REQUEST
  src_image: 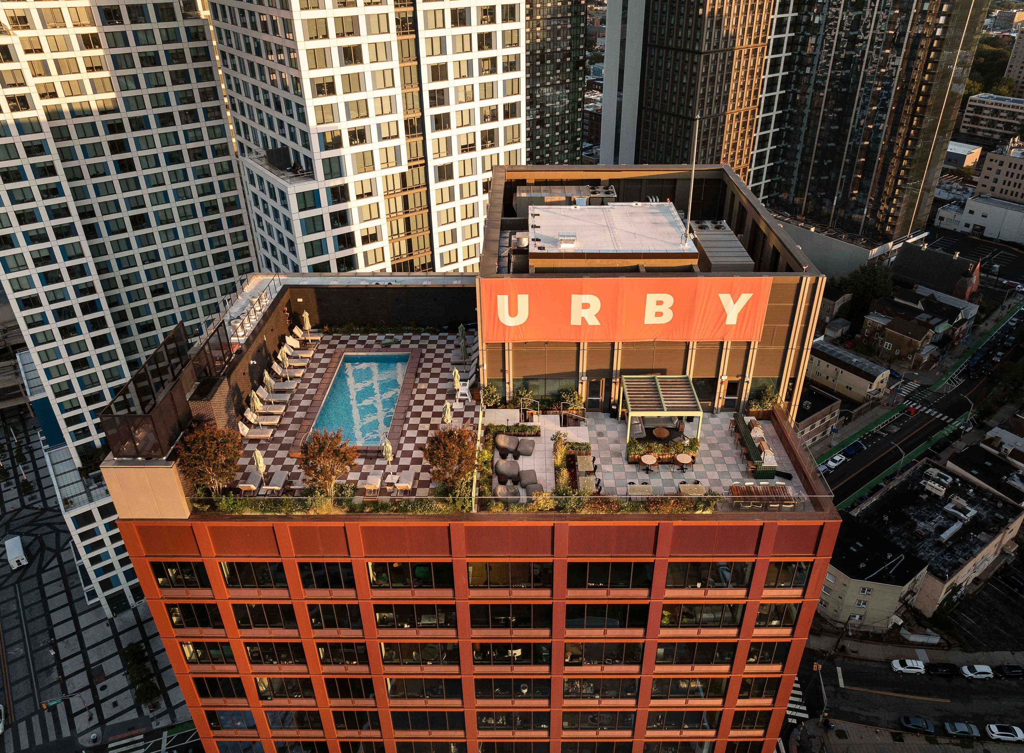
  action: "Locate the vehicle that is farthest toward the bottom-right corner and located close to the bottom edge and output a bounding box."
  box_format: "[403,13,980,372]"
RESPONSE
[983,721,1024,742]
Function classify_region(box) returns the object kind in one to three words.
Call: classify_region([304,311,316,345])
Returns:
umbrella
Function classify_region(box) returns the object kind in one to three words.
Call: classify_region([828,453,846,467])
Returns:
car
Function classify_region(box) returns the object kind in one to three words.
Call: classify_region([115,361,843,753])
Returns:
building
